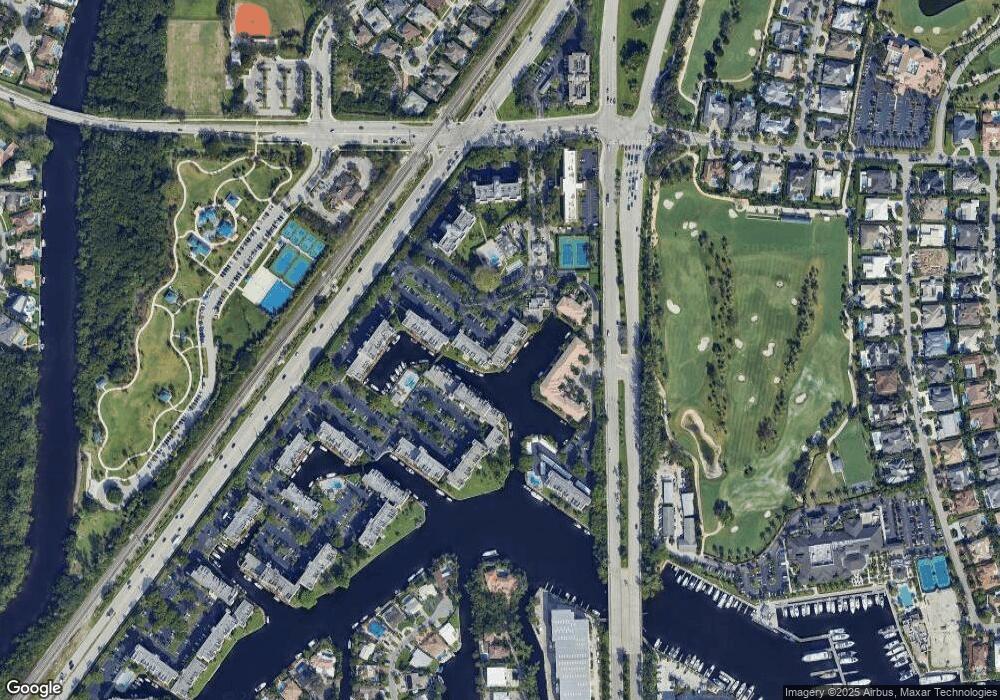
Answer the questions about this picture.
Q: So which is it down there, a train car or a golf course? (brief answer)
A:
golf course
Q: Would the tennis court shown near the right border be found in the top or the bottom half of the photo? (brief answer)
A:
bottom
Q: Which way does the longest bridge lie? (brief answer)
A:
from top to bottom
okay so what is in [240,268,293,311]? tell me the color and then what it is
white sports court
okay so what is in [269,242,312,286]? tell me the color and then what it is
blue tennis court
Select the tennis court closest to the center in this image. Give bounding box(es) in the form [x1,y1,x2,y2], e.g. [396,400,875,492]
[559,235,590,268]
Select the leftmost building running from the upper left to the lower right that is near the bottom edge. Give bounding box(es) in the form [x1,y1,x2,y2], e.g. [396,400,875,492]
[131,645,178,686]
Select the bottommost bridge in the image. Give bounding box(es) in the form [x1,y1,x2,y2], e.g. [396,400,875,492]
[607,566,644,655]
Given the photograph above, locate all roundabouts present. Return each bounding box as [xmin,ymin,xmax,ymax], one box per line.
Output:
[96,475,130,509]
